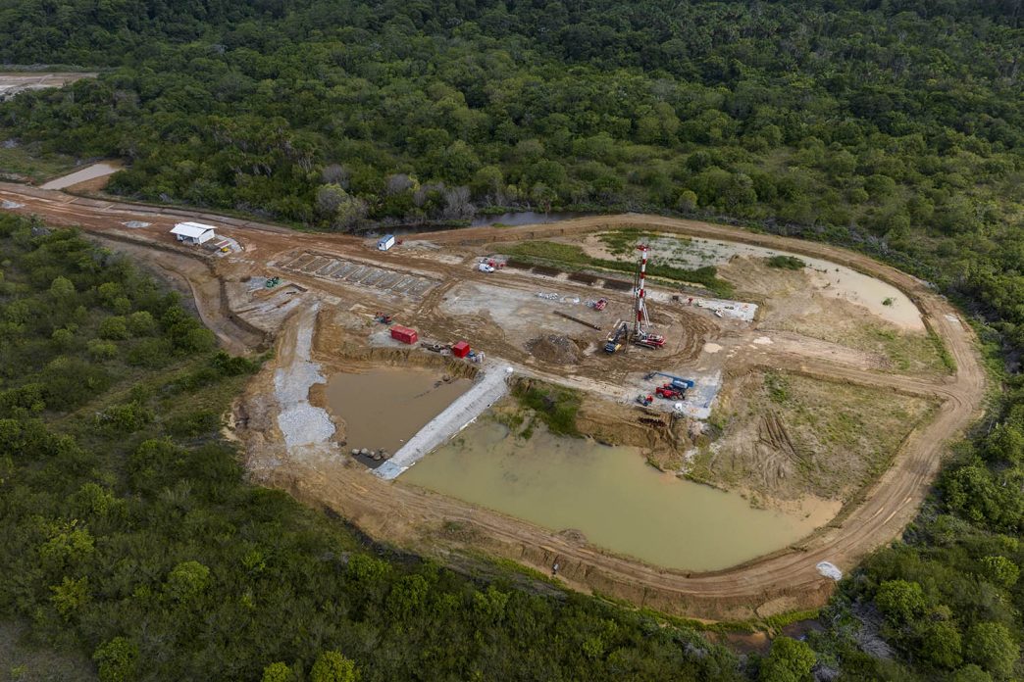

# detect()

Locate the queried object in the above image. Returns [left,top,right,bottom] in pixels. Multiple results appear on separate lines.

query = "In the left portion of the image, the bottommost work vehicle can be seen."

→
[377,311,390,323]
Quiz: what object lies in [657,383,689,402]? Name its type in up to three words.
work vehicle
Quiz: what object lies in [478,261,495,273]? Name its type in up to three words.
vehicle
